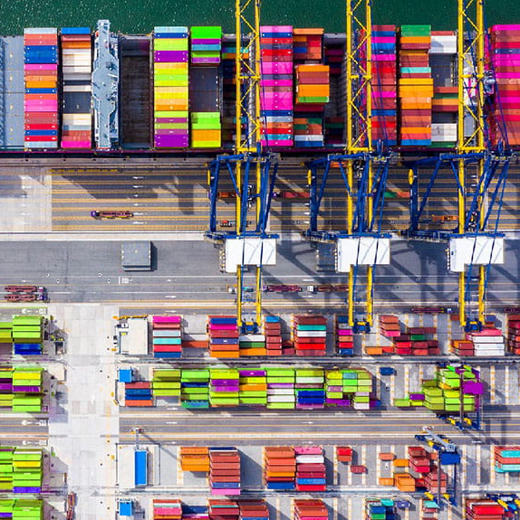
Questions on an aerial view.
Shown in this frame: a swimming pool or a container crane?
container crane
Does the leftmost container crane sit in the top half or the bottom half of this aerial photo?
top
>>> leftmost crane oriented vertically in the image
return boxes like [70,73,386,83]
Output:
[198,0,278,338]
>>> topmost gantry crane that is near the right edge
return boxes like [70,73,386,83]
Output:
[393,0,512,338]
